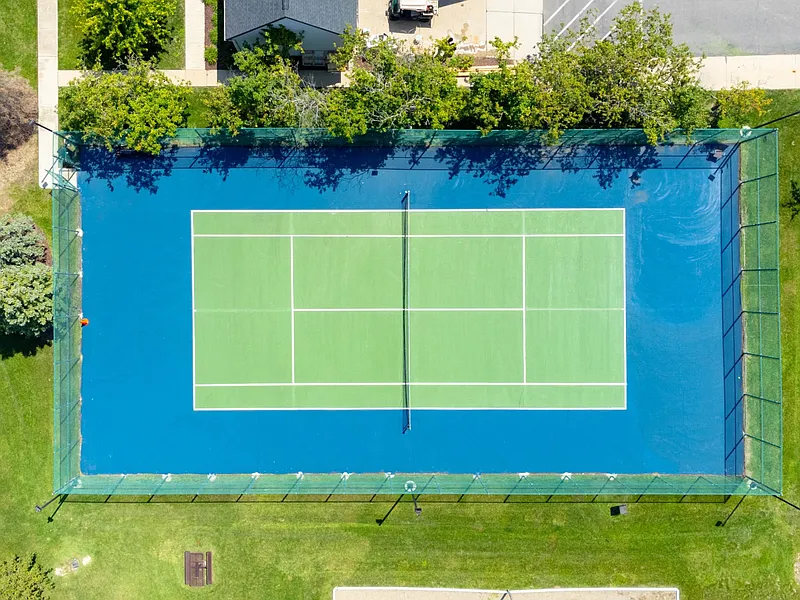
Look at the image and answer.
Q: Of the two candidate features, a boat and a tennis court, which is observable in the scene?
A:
tennis court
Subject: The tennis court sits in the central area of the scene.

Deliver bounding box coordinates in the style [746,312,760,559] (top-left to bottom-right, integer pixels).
[77,143,749,477]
